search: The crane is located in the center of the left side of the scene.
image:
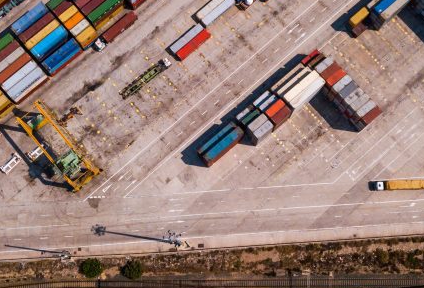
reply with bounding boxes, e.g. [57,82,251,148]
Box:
[15,100,107,195]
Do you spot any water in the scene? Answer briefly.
No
